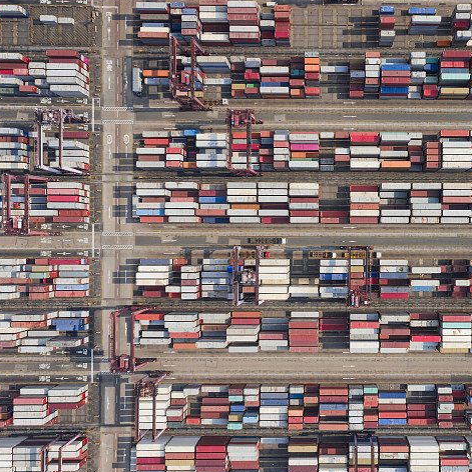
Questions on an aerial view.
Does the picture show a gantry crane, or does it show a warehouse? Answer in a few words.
gantry crane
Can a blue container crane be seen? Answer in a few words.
No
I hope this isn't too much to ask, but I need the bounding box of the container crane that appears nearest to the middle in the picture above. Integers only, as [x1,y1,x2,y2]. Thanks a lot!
[232,243,272,308]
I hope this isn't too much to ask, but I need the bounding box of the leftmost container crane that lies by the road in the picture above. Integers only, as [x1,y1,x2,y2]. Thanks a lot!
[2,169,63,234]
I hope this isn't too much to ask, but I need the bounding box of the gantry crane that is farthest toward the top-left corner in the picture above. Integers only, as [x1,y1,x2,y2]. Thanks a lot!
[37,105,94,177]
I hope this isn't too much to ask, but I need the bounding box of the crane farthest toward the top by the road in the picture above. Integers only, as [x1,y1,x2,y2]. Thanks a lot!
[170,31,215,109]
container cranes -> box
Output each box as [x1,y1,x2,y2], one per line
[347,429,375,472]
[37,105,94,177]
[109,302,159,371]
[232,243,272,308]
[41,428,92,472]
[342,244,371,308]
[2,169,63,234]
[170,31,215,109]
[134,370,178,445]
[226,106,263,177]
